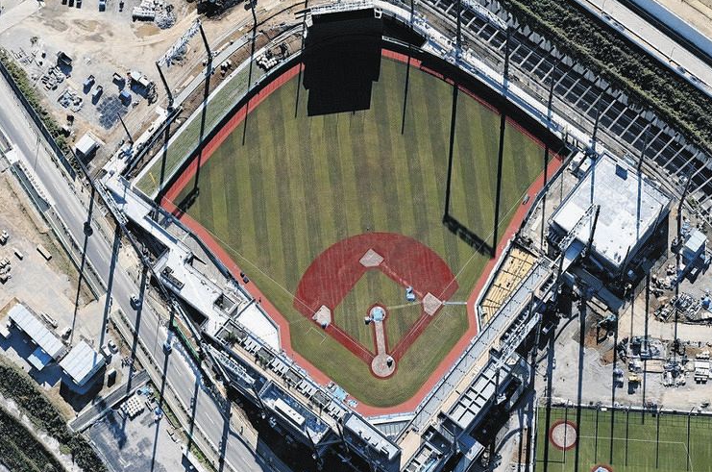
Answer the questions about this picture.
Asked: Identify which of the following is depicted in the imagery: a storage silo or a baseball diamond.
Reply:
baseball diamond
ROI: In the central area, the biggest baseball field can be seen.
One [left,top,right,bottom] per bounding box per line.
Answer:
[160,38,564,416]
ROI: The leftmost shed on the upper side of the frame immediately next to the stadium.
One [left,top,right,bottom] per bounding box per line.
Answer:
[74,132,103,163]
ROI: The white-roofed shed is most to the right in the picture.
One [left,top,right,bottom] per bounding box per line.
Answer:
[684,228,707,255]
